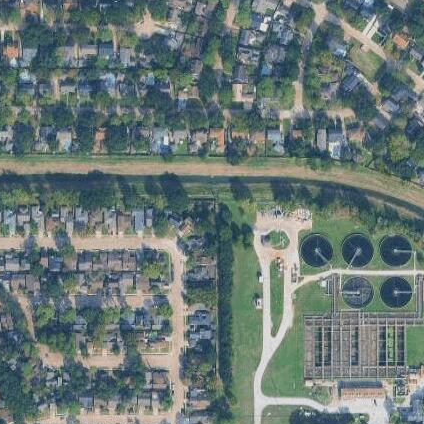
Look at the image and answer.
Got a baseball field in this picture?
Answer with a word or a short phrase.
No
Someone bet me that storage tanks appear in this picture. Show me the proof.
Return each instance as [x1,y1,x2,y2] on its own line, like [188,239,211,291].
[380,233,413,266]
[380,276,413,308]
[301,233,333,266]
[341,276,374,308]
[342,233,374,266]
